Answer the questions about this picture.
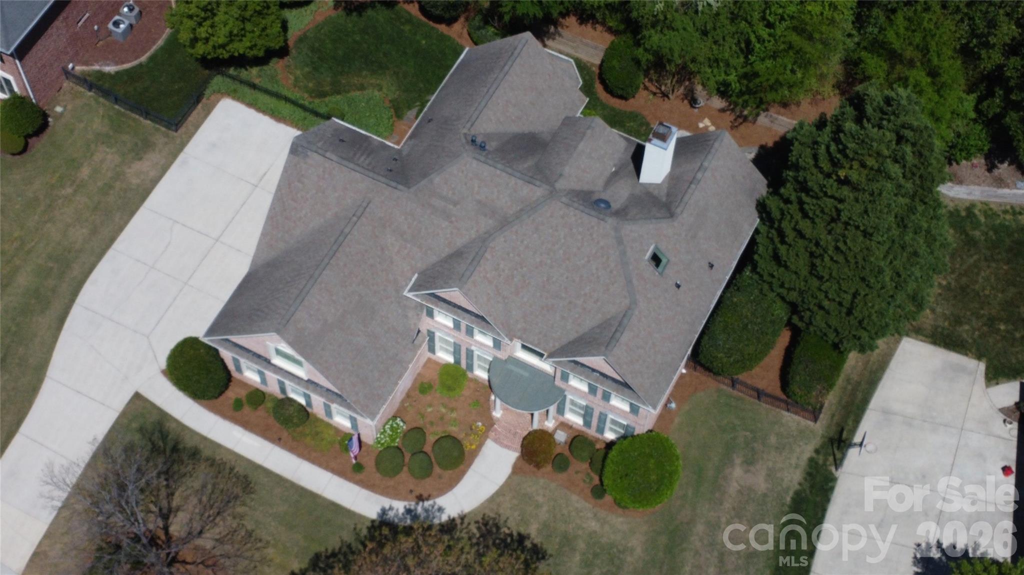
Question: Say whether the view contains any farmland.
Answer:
No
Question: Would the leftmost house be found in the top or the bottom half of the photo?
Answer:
top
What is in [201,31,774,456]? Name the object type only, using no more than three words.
house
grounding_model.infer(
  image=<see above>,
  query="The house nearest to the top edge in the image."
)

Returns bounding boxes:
[0,0,125,103]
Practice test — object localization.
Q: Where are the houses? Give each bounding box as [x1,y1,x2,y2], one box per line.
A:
[201,31,774,456]
[0,0,125,103]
